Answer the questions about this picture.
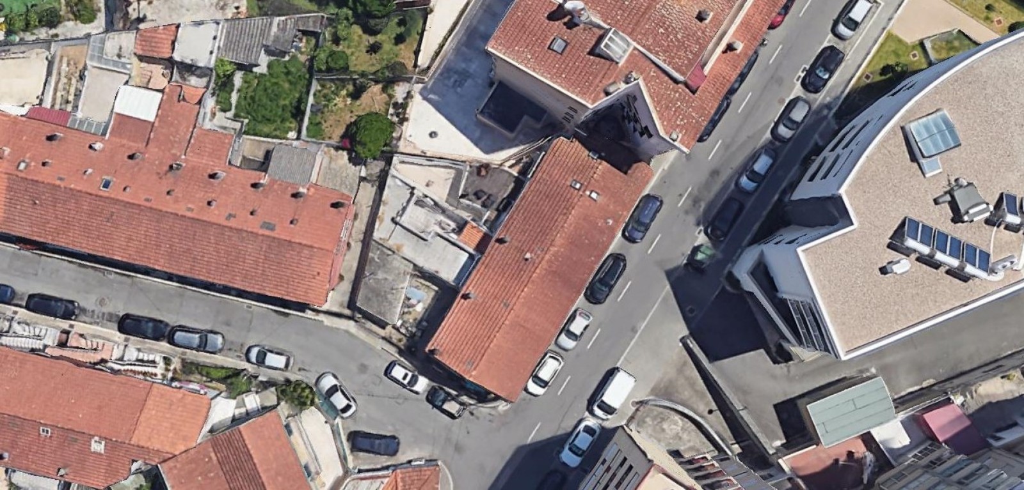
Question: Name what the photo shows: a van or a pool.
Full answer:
This aerial view contains a van.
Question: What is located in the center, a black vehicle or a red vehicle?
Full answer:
You can see a black vehicle in the center.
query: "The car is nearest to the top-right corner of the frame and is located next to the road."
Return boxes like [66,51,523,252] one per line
[832,0,879,39]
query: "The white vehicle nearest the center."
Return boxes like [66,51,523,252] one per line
[555,309,593,350]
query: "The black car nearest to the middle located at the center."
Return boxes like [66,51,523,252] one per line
[585,255,628,303]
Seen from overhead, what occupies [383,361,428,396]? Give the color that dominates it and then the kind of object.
white car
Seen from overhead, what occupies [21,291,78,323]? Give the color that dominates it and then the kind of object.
black car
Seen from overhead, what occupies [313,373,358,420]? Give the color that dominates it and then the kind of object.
white car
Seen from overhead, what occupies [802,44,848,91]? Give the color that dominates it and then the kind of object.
black car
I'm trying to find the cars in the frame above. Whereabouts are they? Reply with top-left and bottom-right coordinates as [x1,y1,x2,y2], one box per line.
[832,0,879,39]
[561,420,601,468]
[555,309,593,350]
[115,312,169,344]
[166,324,222,357]
[0,281,16,306]
[525,352,565,395]
[21,291,78,323]
[623,194,665,240]
[772,95,814,140]
[737,146,778,191]
[425,387,466,422]
[728,56,759,96]
[383,361,428,396]
[585,255,628,303]
[705,196,747,240]
[313,373,358,420]
[346,430,400,461]
[698,100,731,142]
[772,0,797,28]
[245,344,293,373]
[802,44,848,91]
